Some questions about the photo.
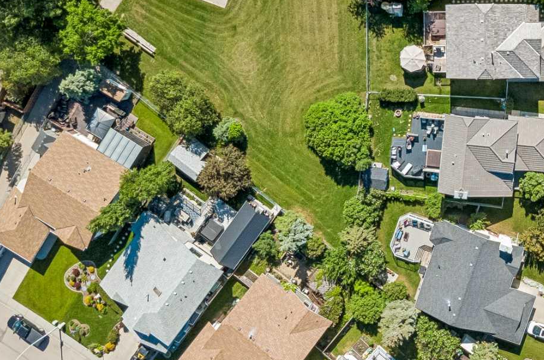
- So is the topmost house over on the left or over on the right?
right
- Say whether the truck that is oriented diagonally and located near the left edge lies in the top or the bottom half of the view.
bottom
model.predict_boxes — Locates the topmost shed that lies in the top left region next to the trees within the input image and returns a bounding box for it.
[100,80,131,101]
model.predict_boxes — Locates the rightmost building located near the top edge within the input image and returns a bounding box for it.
[445,2,544,82]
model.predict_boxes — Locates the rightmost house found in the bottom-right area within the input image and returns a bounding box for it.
[415,220,537,346]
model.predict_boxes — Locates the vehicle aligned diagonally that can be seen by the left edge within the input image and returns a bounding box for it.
[8,314,51,348]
